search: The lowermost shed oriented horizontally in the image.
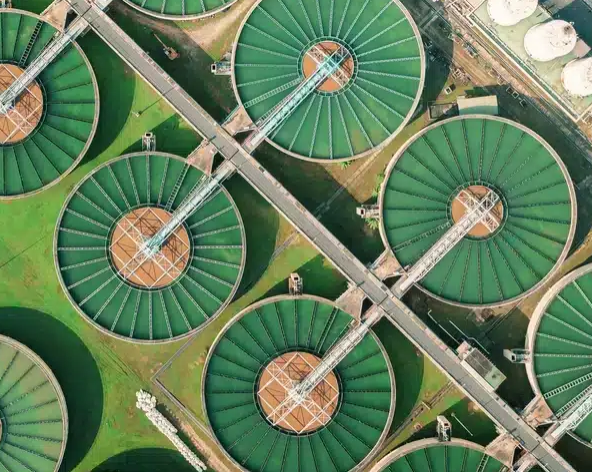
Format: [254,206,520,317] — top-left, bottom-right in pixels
[456,95,499,114]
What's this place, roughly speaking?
industrial area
